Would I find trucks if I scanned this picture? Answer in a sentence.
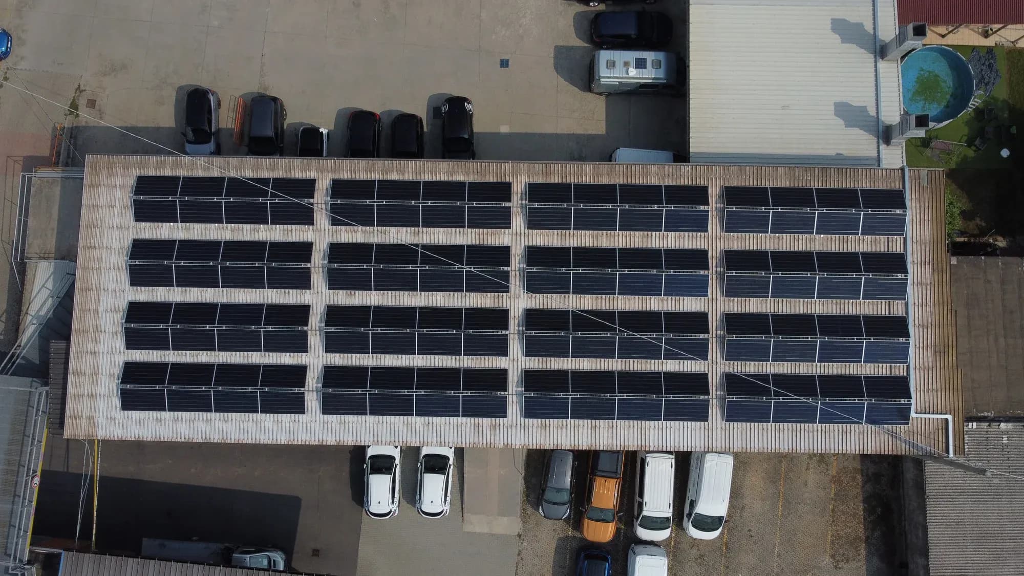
Yes, there's a truck here.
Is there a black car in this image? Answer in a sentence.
Yes, a black car is visible in the scene.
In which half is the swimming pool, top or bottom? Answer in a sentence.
Seen from above, the swimming pool lies in the top half of the view.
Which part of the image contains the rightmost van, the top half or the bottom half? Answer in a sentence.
The rightmost van is in the bottom half of the image.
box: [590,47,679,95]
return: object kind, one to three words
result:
van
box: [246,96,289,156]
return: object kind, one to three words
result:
car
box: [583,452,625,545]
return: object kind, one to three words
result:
truck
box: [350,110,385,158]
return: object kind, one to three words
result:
car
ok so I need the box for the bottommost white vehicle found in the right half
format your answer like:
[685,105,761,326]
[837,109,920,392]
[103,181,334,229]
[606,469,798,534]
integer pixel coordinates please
[628,541,665,576]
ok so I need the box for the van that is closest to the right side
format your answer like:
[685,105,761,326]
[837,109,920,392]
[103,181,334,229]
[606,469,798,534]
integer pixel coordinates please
[684,454,733,541]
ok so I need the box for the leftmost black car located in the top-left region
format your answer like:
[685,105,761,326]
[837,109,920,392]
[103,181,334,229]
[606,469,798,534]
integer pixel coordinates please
[181,86,225,154]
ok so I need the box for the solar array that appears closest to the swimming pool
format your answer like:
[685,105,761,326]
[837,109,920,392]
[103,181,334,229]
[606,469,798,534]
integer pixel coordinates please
[724,185,907,239]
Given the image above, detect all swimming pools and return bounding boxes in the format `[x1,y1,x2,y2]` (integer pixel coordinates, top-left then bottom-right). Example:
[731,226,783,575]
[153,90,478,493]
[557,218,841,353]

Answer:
[902,48,977,128]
